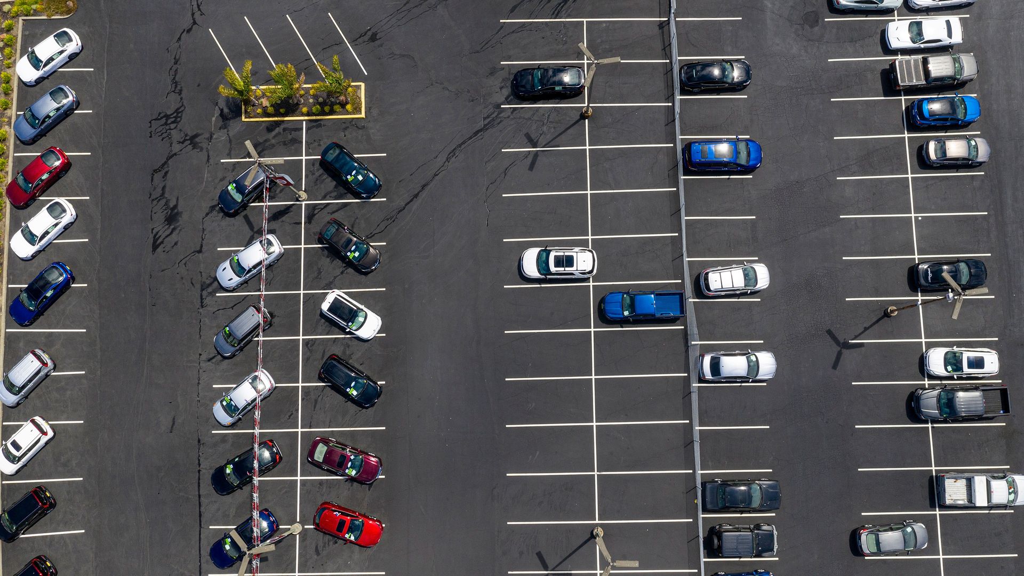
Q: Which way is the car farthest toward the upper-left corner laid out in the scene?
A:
diagonally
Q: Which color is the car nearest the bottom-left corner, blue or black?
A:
black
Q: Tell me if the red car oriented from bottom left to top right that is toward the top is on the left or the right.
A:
left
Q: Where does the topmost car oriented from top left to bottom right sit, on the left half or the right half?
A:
left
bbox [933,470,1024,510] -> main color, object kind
white truck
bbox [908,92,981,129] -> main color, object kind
blue car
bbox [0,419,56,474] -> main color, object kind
white car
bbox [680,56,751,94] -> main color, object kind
black car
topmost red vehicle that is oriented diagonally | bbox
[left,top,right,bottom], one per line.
[6,149,71,208]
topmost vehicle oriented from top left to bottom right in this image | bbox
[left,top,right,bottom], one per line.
[320,141,381,199]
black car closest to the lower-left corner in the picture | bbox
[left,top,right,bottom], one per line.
[13,556,57,576]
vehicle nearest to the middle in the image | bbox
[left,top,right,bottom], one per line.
[521,245,597,281]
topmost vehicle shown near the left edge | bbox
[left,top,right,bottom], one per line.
[17,30,81,88]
